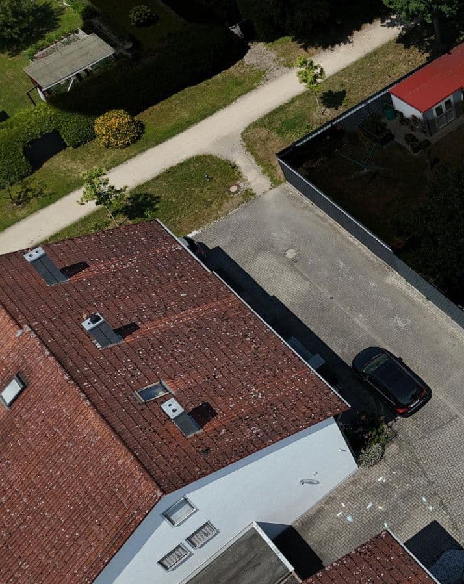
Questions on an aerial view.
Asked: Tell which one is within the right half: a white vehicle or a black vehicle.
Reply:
black vehicle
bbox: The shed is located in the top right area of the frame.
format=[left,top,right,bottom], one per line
[389,38,464,137]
